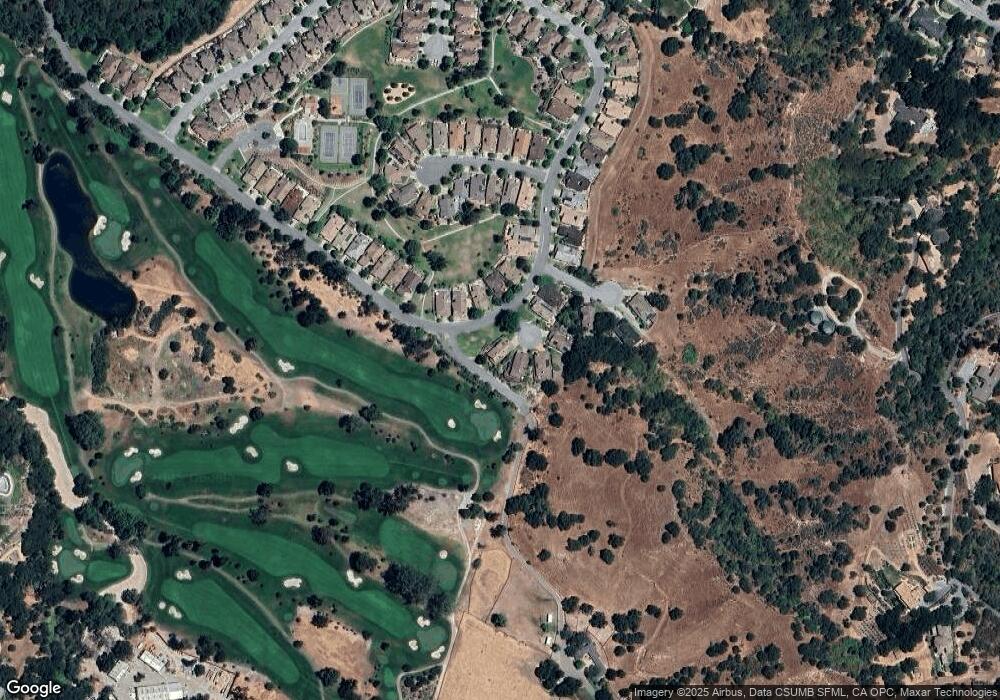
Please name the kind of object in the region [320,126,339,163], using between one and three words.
tennis court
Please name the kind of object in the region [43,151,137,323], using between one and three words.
pond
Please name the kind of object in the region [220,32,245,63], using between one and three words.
house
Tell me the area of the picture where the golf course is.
left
